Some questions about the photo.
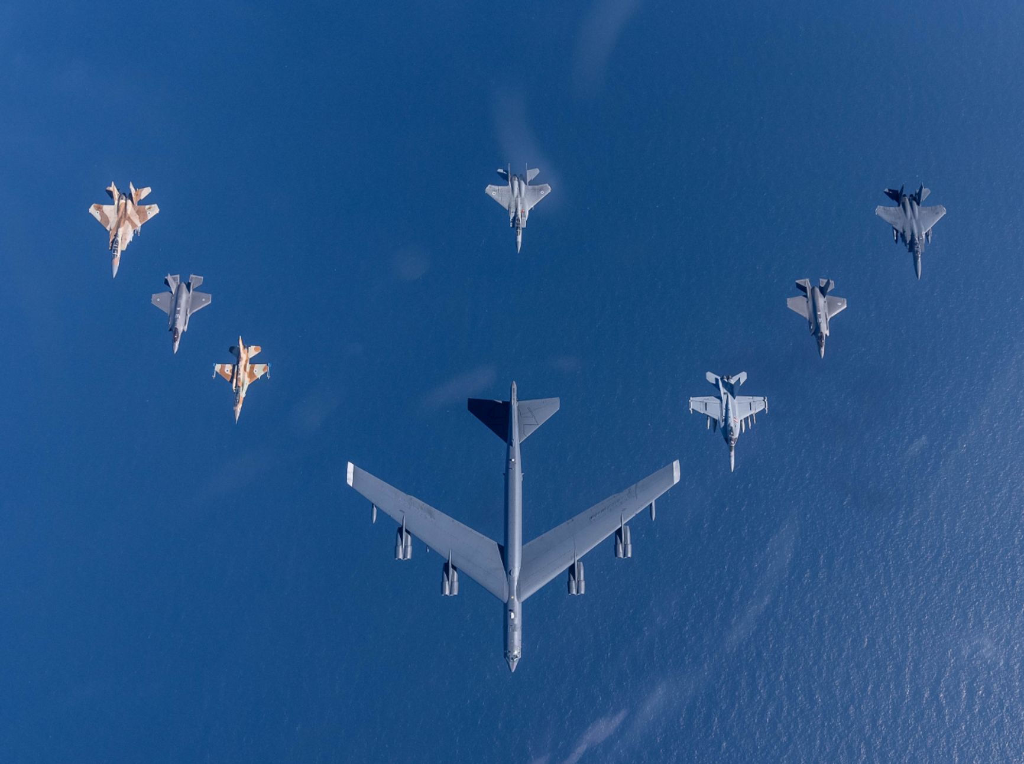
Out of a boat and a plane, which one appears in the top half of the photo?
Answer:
plane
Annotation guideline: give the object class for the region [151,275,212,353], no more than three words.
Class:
airplane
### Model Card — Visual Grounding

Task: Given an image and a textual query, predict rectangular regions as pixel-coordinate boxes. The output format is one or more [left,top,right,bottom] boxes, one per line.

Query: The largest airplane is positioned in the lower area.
[346,382,680,672]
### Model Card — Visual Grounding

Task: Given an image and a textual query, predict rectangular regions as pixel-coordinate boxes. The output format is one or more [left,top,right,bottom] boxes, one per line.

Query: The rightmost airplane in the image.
[875,182,946,280]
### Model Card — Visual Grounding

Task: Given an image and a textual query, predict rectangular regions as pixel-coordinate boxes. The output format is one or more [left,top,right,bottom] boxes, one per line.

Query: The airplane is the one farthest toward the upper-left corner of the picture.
[89,181,159,278]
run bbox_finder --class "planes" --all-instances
[151,275,212,353]
[346,382,680,672]
[786,279,847,358]
[89,181,159,278]
[690,372,767,472]
[213,338,271,421]
[875,182,946,280]
[486,162,551,253]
